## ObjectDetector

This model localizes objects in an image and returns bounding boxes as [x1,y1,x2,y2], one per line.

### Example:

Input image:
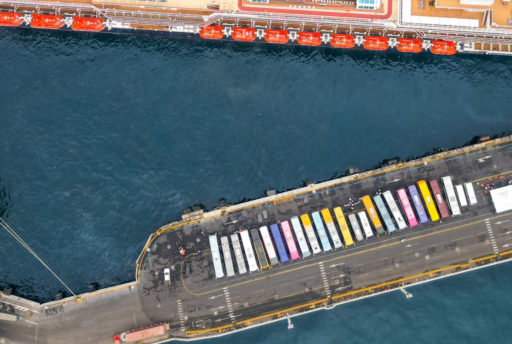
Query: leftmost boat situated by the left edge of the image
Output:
[0,10,26,24]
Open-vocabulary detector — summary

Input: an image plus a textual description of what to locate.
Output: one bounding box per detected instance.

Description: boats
[70,15,106,30]
[29,13,64,27]
[395,37,423,51]
[199,24,225,38]
[361,35,388,49]
[263,29,291,43]
[429,40,458,54]
[0,10,26,24]
[329,33,355,47]
[296,31,324,45]
[230,26,257,40]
